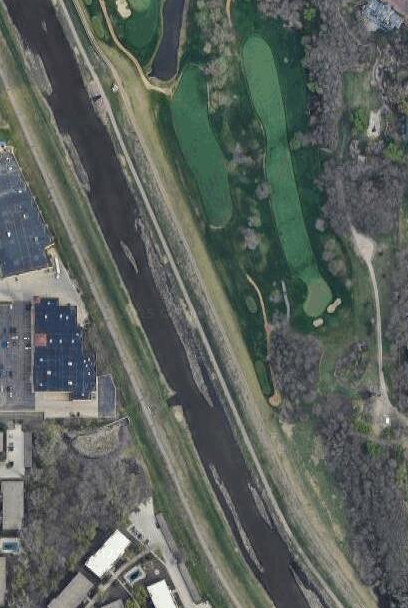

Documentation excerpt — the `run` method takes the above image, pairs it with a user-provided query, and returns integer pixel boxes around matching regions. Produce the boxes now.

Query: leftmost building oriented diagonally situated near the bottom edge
[48,573,93,608]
